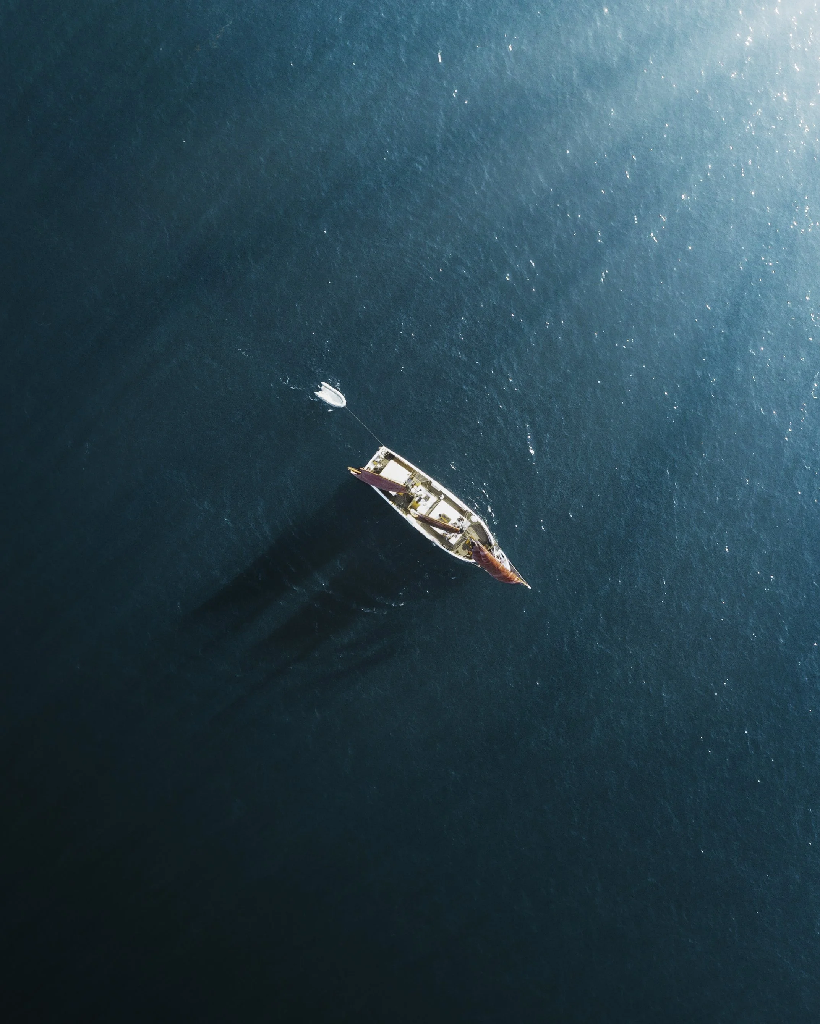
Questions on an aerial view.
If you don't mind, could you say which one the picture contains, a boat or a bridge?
boat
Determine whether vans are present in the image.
No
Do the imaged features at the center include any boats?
Yes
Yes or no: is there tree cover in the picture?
No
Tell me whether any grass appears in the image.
No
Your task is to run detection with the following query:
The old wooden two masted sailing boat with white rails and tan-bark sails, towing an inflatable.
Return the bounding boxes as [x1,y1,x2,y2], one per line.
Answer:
[345,445,531,589]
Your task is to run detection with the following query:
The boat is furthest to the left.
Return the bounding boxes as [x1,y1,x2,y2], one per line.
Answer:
[316,382,346,408]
